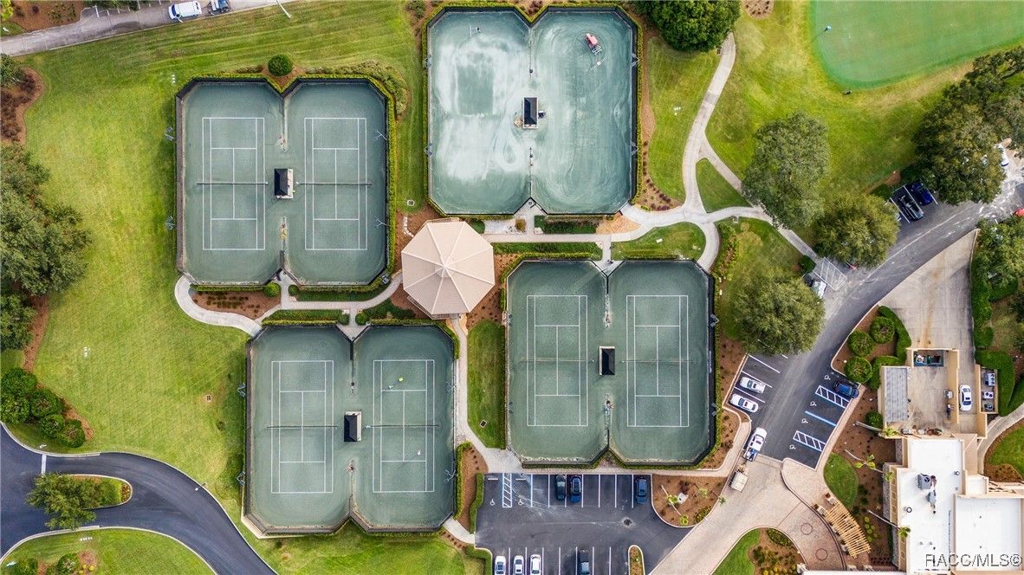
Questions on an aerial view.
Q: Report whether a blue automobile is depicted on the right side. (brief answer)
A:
Yes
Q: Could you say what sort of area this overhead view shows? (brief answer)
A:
sports ground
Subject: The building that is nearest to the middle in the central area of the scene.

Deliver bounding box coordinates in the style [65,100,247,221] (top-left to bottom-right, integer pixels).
[402,217,495,320]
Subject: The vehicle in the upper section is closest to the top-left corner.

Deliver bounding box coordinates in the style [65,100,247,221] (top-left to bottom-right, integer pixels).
[167,0,203,20]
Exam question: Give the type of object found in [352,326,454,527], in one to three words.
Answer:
tennis court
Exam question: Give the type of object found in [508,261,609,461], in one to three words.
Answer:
tennis court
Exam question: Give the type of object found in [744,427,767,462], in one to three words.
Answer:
truck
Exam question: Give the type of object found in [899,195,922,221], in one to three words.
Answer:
car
